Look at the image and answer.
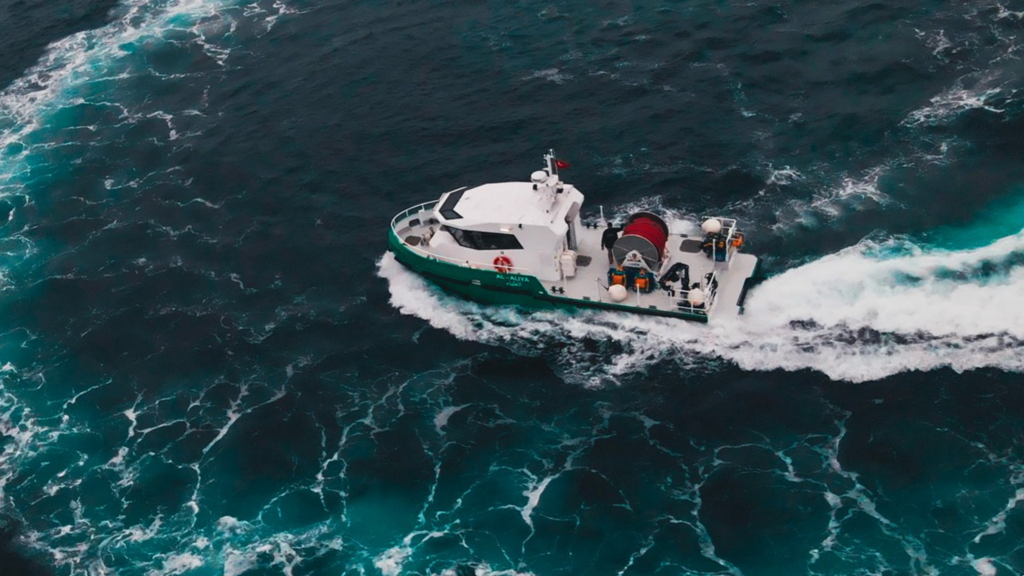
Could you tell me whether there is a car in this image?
No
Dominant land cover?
water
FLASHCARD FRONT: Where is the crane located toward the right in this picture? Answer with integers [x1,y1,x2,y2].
[656,260,691,301]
